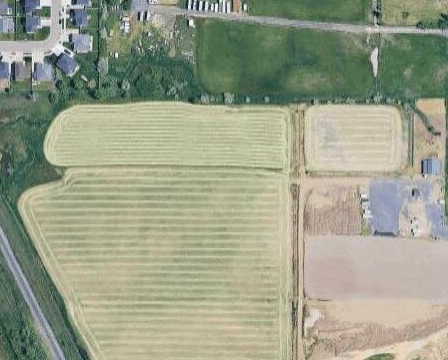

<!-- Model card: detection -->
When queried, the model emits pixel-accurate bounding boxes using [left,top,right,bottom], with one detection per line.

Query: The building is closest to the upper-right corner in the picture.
[422,158,441,175]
